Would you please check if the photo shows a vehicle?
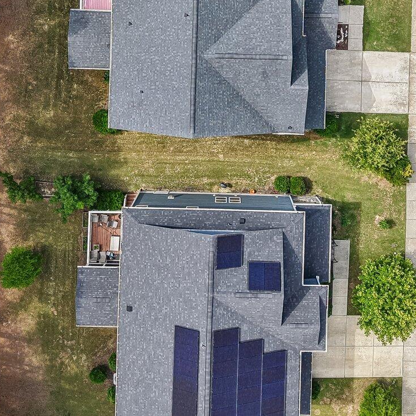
No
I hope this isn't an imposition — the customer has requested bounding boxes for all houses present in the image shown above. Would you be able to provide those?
[76,192,333,416]
[68,0,338,138]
